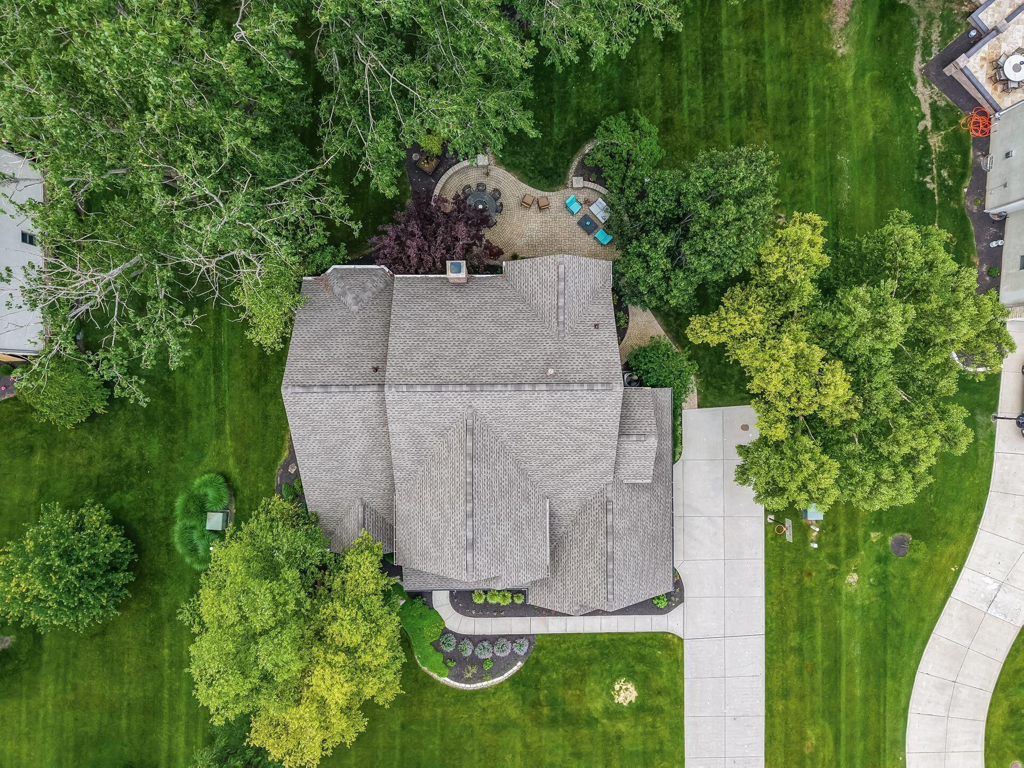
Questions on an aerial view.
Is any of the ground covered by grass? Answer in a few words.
Yes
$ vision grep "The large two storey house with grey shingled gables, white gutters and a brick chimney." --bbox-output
[280,254,676,615]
